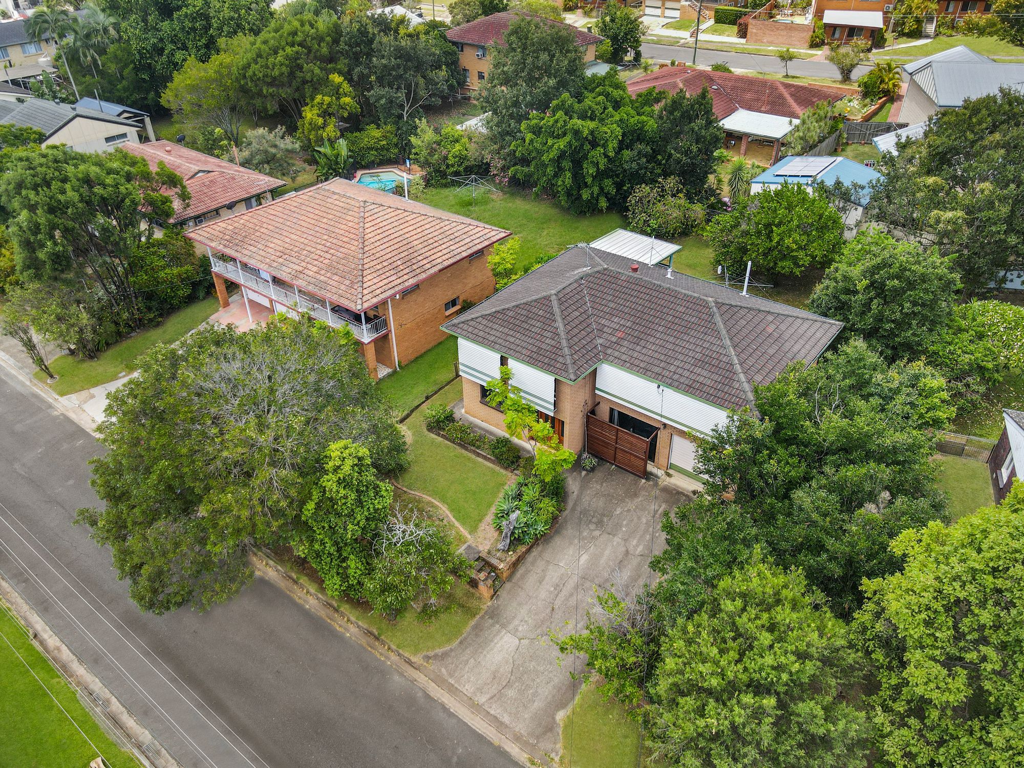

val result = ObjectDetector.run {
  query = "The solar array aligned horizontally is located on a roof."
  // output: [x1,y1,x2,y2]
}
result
[775,157,837,176]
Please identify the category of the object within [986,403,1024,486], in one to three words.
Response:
house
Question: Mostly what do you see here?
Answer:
trees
